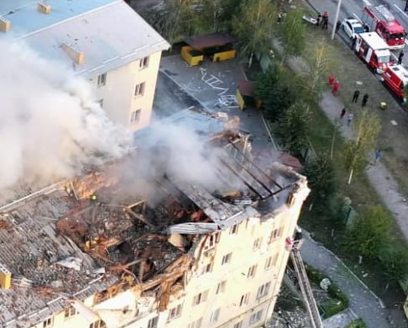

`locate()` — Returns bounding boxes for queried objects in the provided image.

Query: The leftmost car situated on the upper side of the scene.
[340,19,364,37]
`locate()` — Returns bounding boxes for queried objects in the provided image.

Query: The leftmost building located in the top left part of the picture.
[0,0,171,162]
